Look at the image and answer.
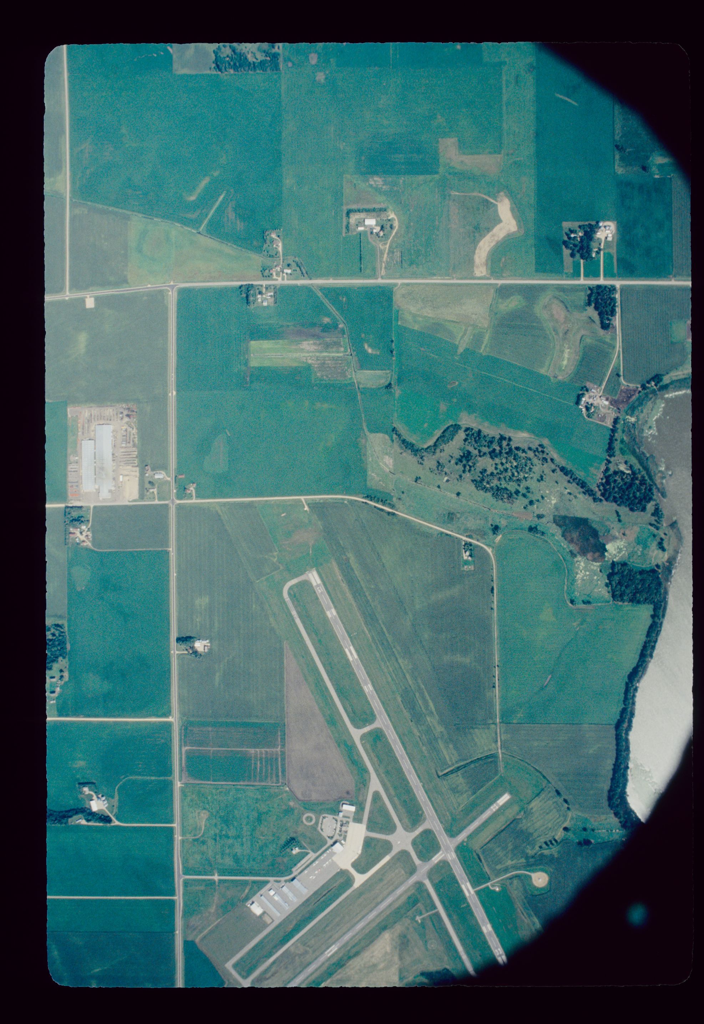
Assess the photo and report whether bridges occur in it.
No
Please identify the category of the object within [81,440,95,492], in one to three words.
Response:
shed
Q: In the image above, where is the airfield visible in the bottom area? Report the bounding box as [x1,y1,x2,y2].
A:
[224,559,553,1024]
